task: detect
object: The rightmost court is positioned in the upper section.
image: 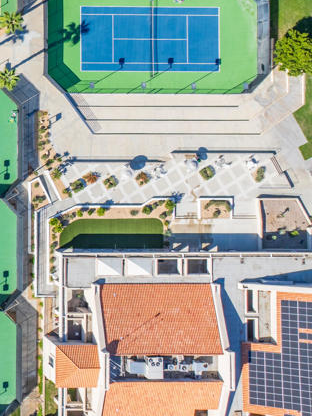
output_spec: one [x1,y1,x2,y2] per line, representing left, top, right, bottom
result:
[44,0,257,92]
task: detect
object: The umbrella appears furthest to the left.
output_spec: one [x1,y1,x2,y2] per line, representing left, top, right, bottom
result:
[117,166,134,182]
